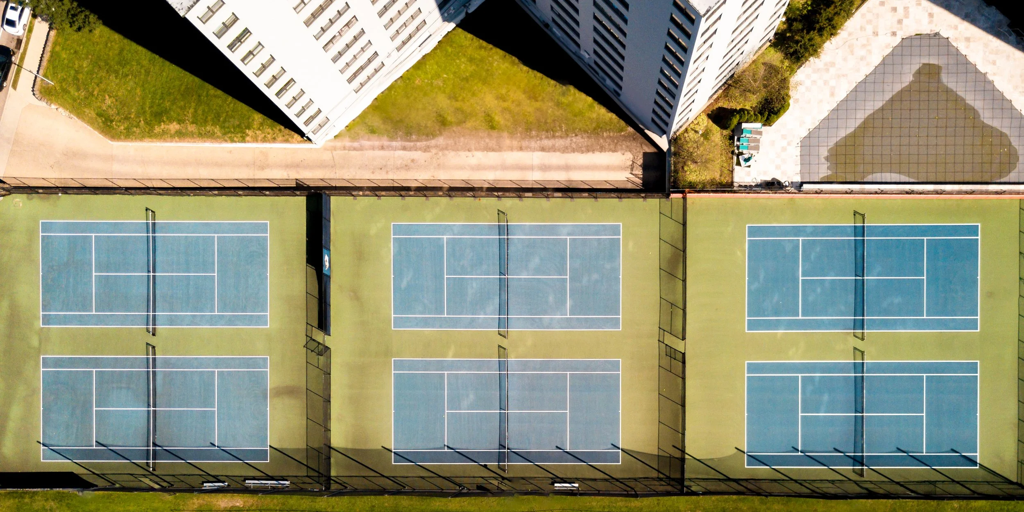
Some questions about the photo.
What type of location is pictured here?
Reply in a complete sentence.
It's a sports ground.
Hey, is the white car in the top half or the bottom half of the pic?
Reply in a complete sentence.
The white car sits in the top half of the picture.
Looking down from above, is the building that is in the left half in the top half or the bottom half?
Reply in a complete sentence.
The building that is in the left half sits in the top half of the picture.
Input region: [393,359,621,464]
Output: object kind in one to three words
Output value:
tennis court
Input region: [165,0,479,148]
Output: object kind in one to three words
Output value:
building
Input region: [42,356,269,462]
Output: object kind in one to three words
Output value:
tennis court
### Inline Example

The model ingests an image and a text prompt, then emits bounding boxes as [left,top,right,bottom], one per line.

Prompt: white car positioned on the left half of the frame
[4,0,29,36]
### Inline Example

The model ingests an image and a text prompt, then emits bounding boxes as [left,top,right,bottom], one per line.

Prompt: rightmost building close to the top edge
[513,0,788,154]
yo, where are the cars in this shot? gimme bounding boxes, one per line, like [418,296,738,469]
[4,0,29,36]
[0,46,13,91]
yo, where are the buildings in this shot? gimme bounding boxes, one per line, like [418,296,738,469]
[165,0,479,148]
[513,0,788,154]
